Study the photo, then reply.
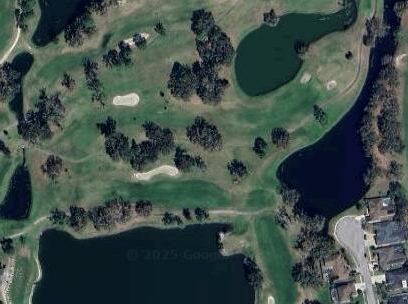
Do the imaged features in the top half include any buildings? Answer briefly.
No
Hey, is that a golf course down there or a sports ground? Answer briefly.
golf course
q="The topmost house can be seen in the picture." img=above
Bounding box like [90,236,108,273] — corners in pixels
[369,196,395,222]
